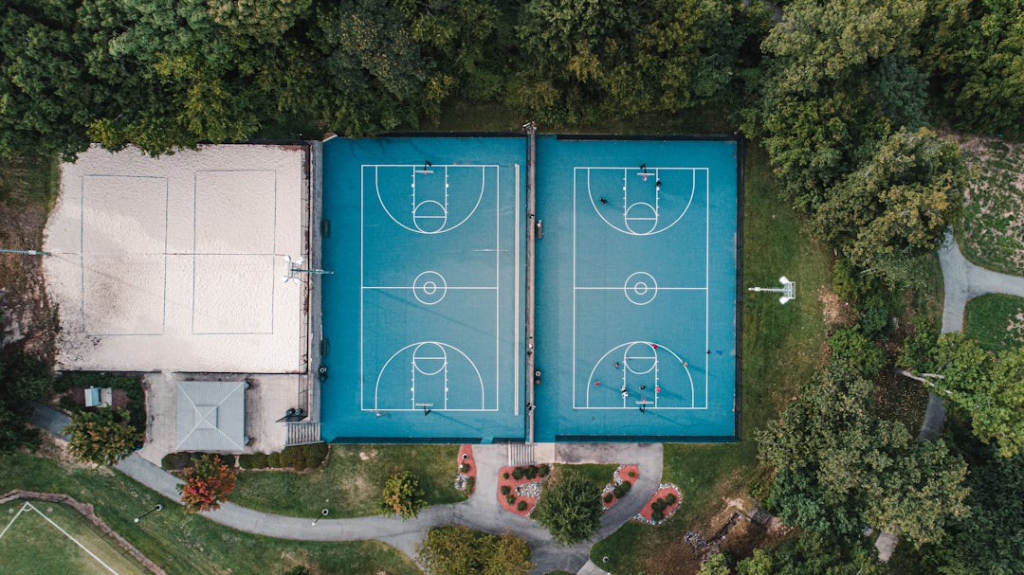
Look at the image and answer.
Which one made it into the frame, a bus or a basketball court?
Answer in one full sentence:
It is a basketball court that can be seen here.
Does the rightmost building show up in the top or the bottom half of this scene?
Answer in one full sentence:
You can find the rightmost building in the bottom half.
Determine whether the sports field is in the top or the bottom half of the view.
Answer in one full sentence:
Seen from above, the sports field lies in the bottom half of the view.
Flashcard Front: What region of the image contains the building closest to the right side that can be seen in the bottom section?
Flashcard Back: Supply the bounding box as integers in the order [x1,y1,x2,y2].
[176,381,253,450]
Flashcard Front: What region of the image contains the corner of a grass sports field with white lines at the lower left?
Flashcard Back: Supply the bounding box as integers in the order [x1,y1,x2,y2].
[0,497,146,575]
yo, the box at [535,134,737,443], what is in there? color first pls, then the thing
blue basketball court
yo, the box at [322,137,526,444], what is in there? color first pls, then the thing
blue basketball court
